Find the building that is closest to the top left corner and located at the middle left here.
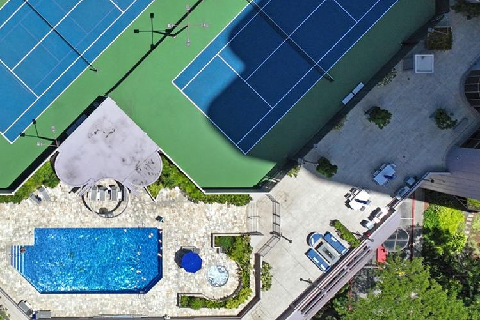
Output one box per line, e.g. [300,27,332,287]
[54,96,162,199]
